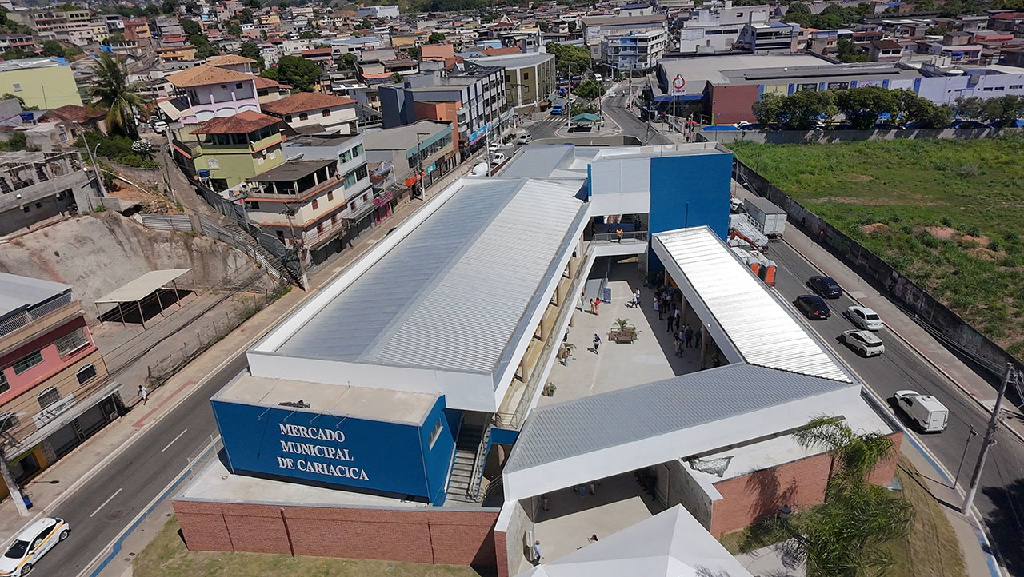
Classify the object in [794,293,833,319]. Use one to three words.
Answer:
car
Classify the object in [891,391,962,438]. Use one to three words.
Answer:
van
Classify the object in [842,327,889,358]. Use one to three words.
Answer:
car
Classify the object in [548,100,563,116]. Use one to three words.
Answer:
vehicle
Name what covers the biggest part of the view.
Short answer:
buildings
